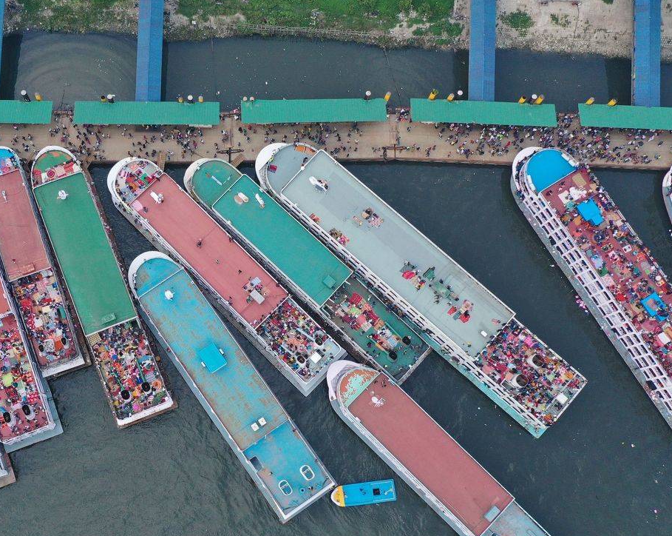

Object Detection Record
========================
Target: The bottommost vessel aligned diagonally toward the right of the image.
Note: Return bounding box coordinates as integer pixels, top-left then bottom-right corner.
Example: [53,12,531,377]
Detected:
[321,355,556,536]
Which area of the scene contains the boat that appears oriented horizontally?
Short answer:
bottom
